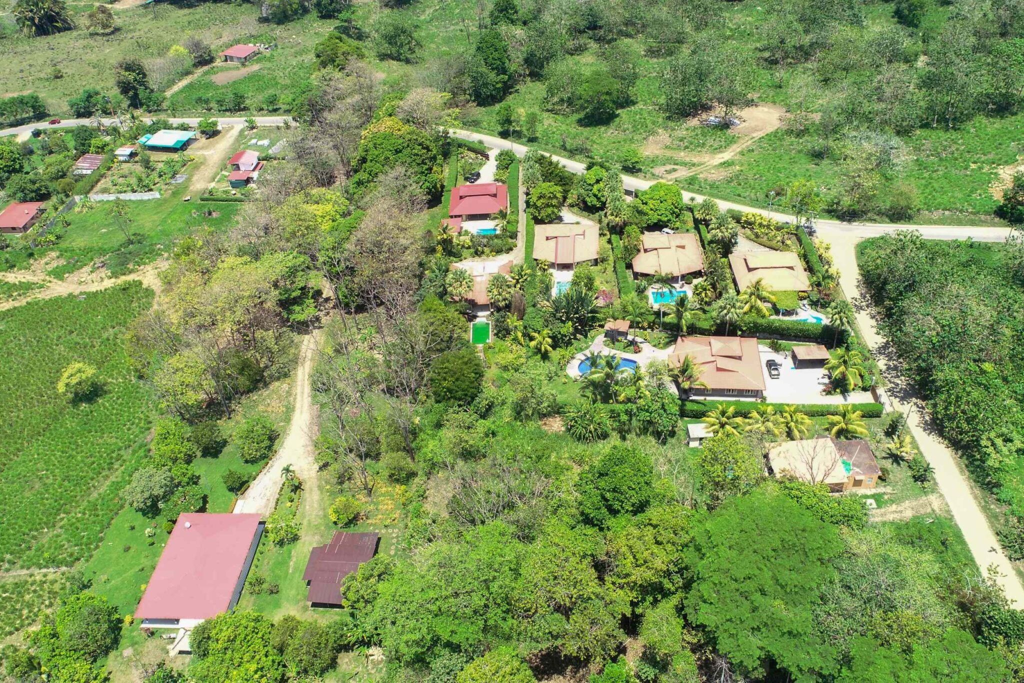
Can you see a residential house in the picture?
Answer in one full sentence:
Yes, I can see a residential house in this picture.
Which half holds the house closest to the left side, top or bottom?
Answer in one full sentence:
The house closest to the left side is in the top half of the image.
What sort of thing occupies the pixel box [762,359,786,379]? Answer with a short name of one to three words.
vehicle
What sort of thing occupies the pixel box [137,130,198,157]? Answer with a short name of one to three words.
house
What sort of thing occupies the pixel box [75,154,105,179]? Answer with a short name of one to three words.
barn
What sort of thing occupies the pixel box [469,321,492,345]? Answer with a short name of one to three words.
swimming pool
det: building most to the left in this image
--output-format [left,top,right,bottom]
[0,202,44,236]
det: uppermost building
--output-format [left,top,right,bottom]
[220,45,258,63]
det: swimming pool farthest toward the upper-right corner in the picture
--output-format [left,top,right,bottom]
[777,315,825,327]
